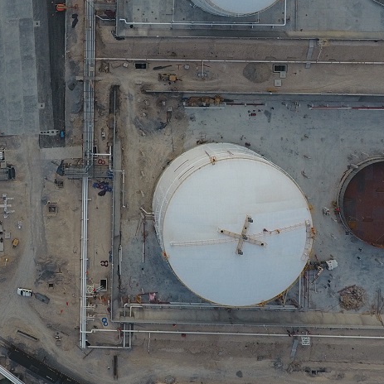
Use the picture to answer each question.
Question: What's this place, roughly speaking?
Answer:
industrial area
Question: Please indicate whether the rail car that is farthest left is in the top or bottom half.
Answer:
bottom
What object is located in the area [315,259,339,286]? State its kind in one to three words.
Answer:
truck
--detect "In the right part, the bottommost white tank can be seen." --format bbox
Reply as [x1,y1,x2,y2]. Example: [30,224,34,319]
[150,142,319,308]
